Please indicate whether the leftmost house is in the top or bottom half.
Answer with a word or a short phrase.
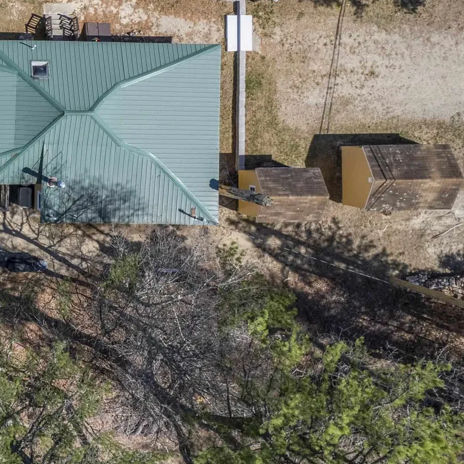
top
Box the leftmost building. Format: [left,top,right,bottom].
[0,40,221,228]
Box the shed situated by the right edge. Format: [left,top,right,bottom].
[342,144,464,210]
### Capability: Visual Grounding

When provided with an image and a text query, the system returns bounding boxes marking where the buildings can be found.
[237,165,329,222]
[342,144,464,210]
[0,40,221,228]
